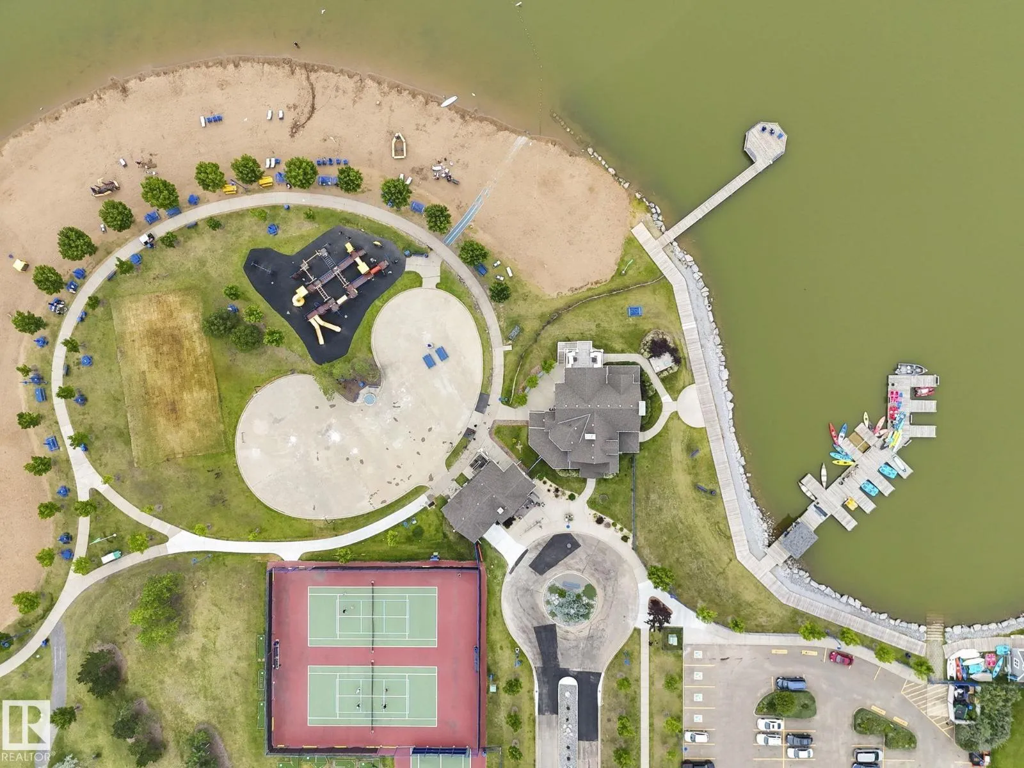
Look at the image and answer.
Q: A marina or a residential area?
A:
marina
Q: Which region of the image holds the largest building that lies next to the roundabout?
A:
center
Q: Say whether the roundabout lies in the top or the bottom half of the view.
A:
bottom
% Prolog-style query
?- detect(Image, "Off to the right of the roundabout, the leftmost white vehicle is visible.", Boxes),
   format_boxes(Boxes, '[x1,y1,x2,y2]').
[684,729,708,743]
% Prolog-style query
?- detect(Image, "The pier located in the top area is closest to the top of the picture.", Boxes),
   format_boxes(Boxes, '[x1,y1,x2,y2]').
[657,121,788,248]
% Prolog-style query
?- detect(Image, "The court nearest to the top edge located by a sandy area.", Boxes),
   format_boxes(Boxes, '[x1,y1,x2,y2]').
[235,286,483,520]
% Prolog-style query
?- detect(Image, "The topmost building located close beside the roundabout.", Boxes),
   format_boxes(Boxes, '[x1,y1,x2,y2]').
[528,365,646,480]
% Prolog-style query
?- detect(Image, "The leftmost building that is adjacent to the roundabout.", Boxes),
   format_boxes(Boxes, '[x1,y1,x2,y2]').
[440,461,536,543]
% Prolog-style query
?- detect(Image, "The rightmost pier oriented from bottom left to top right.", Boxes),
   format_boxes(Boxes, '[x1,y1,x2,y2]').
[761,376,939,570]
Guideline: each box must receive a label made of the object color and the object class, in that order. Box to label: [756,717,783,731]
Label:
white car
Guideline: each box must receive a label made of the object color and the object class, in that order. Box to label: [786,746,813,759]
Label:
white vehicle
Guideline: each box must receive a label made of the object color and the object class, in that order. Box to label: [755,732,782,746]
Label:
white car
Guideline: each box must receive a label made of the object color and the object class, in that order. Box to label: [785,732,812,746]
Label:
gray car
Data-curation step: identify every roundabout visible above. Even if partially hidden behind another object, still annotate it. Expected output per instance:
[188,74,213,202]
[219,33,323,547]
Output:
[502,533,637,768]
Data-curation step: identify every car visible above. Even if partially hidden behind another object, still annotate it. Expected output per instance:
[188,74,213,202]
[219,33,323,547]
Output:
[755,732,782,746]
[684,729,708,743]
[785,732,812,746]
[853,747,883,763]
[786,746,813,759]
[683,760,714,768]
[827,650,855,666]
[851,762,880,768]
[756,717,783,731]
[776,675,807,690]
